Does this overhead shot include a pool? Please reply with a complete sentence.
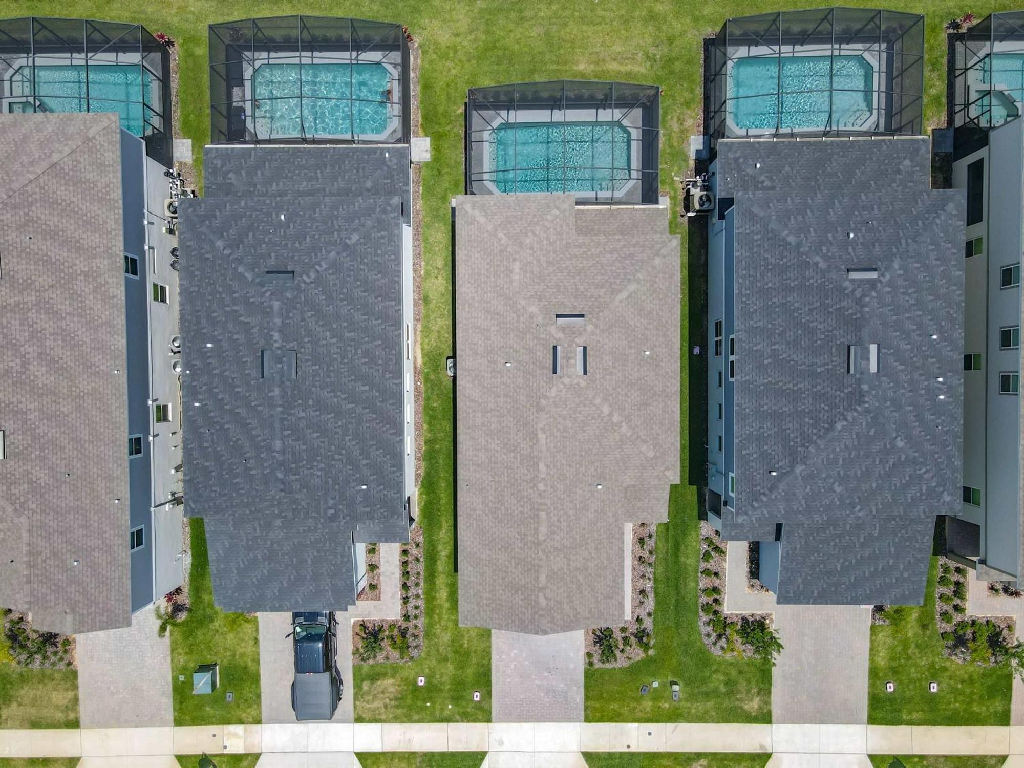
Yes, there's a pool down there.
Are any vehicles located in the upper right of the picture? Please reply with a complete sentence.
No, the scene shows no vehicle in the upper right of the picture.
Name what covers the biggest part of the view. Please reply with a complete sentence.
For the most part, this view shows buildings.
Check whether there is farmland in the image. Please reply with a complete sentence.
No, no farmland is visible.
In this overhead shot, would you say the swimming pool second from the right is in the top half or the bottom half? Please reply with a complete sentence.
You can find the swimming pool second from the right in the top half.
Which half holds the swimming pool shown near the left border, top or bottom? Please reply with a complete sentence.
It is in the top half that the swimming pool shown near the left border appears.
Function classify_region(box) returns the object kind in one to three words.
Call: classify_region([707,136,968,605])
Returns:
house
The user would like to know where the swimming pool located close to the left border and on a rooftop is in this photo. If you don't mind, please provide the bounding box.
[0,53,159,140]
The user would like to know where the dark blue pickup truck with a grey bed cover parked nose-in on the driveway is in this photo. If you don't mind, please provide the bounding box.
[285,612,344,719]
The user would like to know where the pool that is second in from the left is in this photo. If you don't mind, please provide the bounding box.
[245,53,398,139]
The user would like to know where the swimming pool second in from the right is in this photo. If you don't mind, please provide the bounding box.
[728,45,880,133]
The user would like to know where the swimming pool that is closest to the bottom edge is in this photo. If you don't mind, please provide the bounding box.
[482,110,638,198]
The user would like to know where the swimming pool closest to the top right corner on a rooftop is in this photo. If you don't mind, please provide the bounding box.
[966,42,1024,134]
